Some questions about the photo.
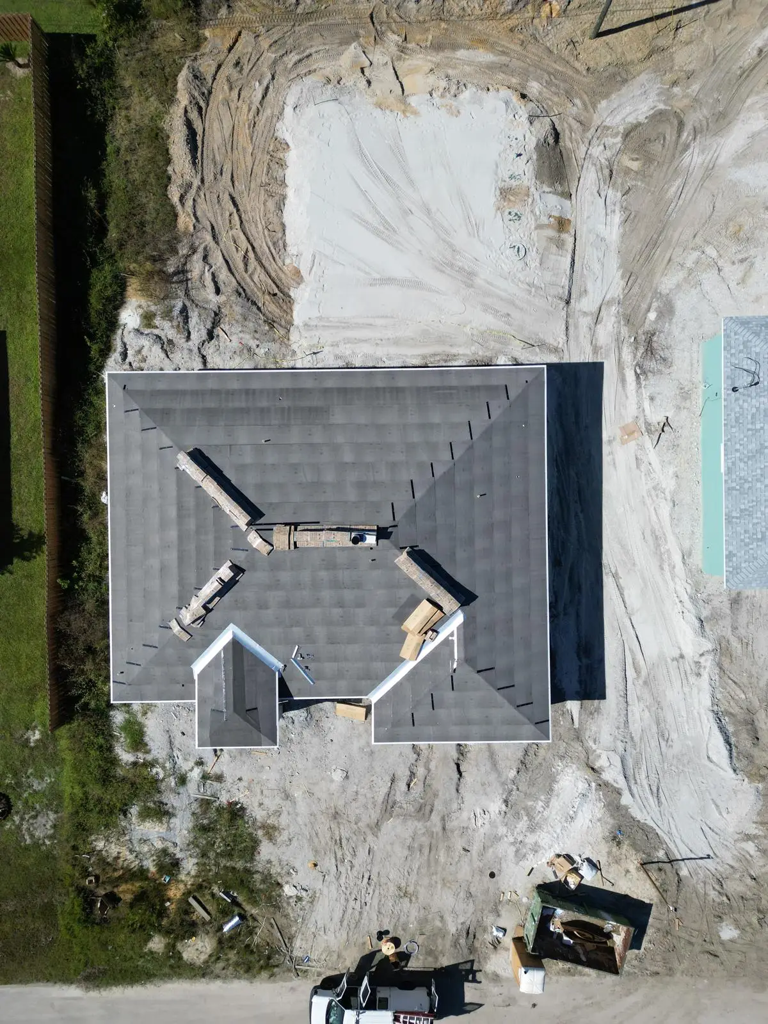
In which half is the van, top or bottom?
bottom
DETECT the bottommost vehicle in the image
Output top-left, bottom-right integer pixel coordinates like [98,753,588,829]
[308,964,438,1024]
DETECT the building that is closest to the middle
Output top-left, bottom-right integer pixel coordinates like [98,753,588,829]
[106,365,552,748]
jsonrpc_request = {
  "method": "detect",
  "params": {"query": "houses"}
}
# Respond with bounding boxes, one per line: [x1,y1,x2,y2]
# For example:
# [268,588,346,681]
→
[106,365,552,748]
[701,314,768,590]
